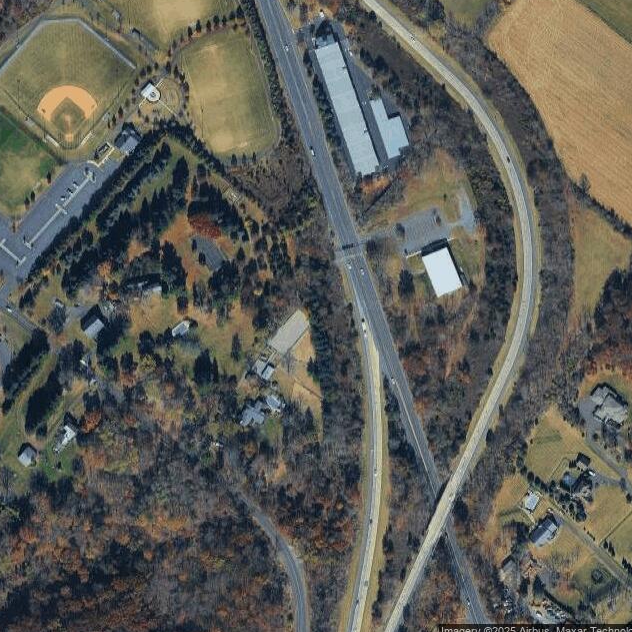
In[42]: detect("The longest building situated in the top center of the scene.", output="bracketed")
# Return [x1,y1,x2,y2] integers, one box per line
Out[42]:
[316,42,379,175]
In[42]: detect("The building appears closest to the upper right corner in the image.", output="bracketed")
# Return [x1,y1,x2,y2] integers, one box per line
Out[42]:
[370,99,410,159]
